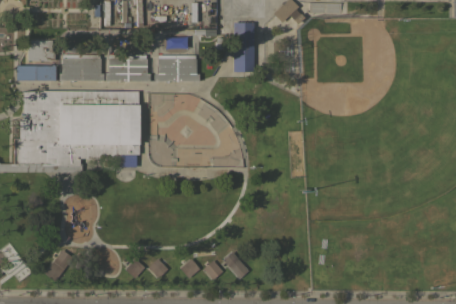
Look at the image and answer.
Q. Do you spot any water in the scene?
No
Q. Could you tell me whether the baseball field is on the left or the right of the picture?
right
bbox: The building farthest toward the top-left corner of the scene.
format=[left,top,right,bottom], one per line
[26,41,54,62]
